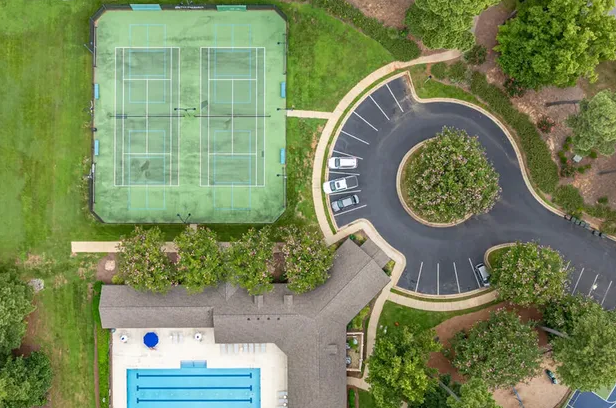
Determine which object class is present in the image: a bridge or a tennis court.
tennis court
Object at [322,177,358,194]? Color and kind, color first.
white vehicle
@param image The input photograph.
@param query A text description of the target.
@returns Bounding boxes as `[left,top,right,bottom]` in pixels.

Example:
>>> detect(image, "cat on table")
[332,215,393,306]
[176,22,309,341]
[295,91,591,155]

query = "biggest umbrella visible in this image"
[144,332,159,348]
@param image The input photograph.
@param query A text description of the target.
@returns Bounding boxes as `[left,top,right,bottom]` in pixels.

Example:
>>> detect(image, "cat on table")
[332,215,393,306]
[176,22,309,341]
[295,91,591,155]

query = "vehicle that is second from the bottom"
[331,195,360,212]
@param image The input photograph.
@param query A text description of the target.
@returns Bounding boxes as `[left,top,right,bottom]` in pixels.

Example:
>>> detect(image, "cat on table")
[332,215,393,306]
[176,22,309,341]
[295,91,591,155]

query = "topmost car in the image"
[328,156,357,170]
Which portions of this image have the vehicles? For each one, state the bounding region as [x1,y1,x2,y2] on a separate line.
[322,177,358,194]
[328,156,357,170]
[331,195,360,212]
[475,261,491,287]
